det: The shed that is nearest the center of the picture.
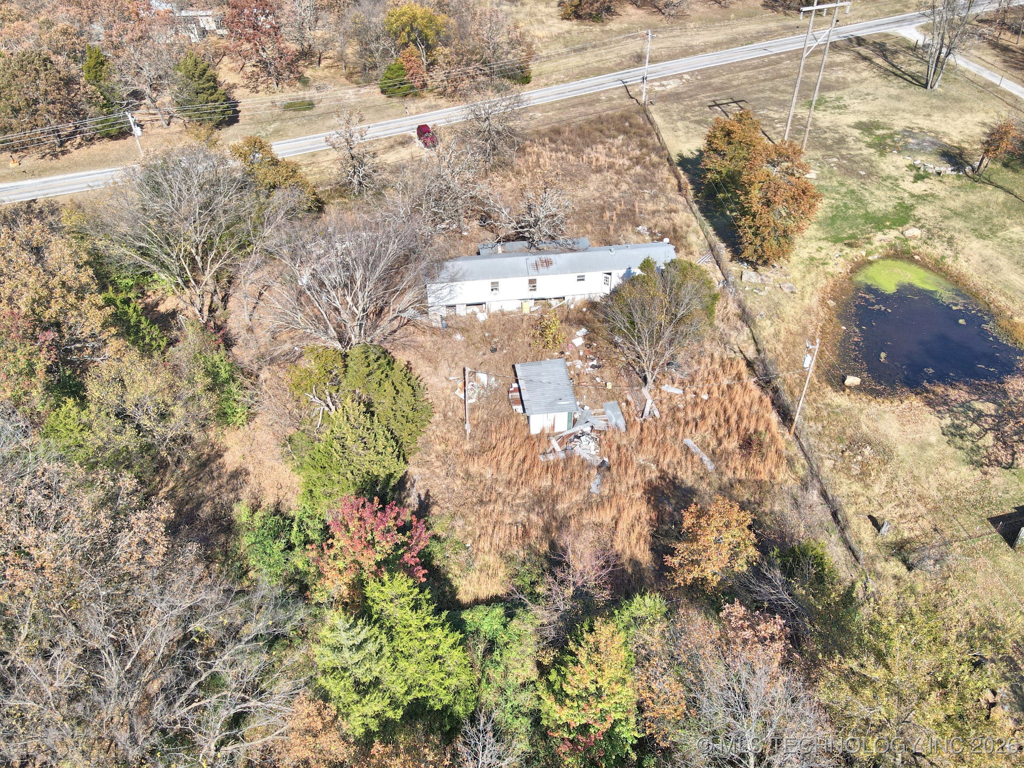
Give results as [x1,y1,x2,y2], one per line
[510,357,576,439]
